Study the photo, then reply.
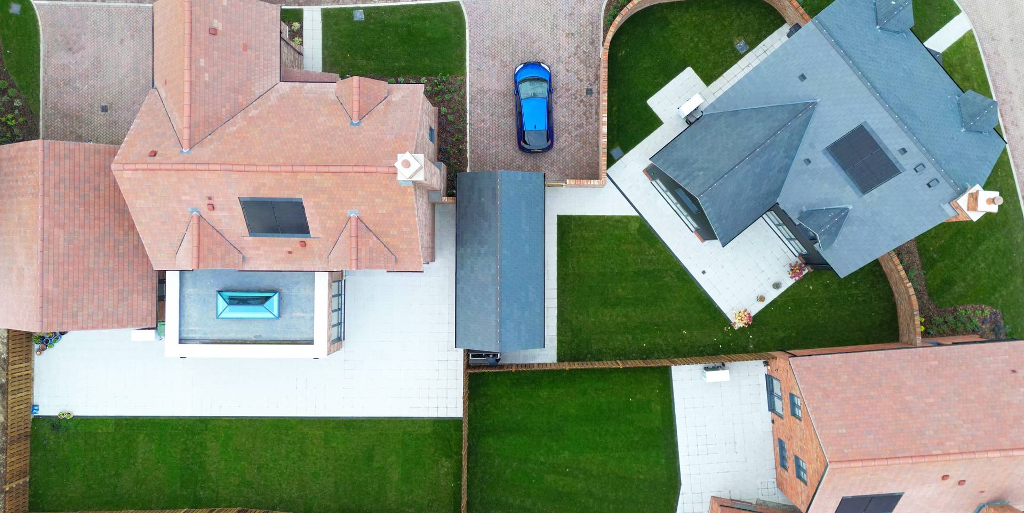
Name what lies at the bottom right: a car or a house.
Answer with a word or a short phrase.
house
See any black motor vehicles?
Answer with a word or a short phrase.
No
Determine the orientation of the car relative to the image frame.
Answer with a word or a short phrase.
up and down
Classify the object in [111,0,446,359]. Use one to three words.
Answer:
house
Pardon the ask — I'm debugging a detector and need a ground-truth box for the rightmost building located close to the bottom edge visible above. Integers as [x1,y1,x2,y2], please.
[766,334,1024,513]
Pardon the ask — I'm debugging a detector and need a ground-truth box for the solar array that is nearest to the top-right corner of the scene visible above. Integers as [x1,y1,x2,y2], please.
[822,120,906,198]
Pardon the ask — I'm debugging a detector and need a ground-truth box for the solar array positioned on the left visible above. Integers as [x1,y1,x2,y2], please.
[238,197,311,238]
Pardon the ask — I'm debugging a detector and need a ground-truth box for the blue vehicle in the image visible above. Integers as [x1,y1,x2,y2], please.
[510,62,555,155]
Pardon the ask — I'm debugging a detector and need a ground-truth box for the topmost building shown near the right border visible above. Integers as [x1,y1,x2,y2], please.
[642,0,1007,280]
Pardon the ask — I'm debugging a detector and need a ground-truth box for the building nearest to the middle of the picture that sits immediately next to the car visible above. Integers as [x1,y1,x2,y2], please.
[454,170,546,351]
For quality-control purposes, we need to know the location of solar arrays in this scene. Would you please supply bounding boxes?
[822,120,906,198]
[836,494,904,513]
[238,197,311,238]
